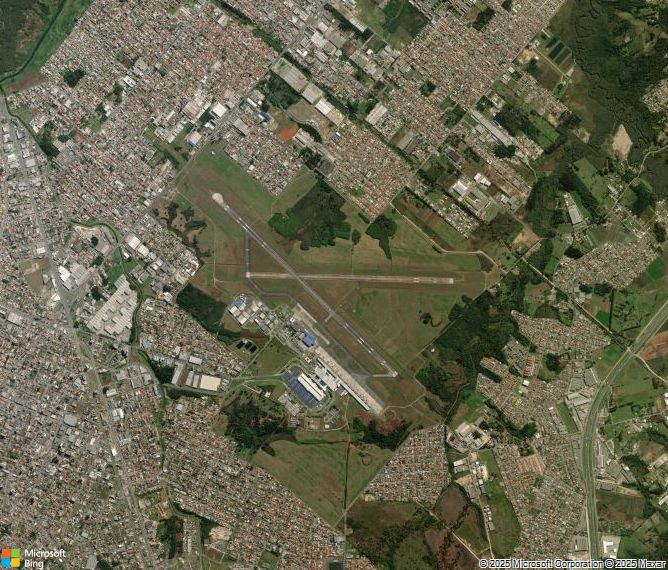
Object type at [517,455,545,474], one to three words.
building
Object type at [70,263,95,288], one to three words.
building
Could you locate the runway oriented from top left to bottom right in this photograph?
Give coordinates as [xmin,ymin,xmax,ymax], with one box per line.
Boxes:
[221,203,397,376]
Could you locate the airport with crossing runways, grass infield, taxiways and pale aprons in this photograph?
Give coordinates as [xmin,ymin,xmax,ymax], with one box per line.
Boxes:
[153,147,496,523]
